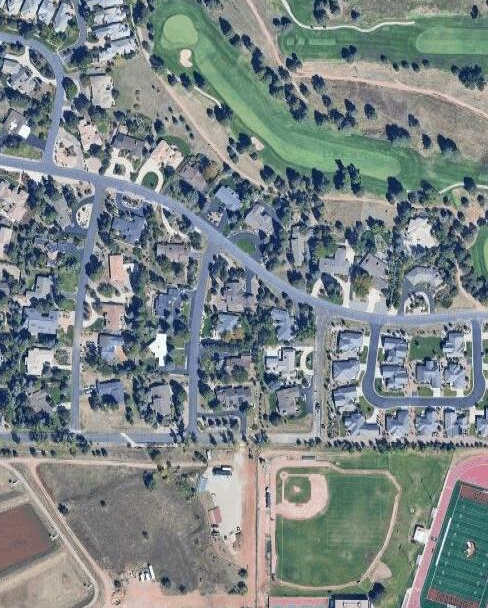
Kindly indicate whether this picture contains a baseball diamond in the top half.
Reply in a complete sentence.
No, I see no baseball diamond in the top half.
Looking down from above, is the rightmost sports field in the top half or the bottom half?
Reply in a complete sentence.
The rightmost sports field sits in the bottom half of the picture.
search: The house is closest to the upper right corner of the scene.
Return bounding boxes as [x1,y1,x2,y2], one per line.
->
[405,217,438,251]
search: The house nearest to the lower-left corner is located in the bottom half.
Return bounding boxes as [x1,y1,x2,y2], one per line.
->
[26,390,52,415]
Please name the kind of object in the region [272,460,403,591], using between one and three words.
baseball field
